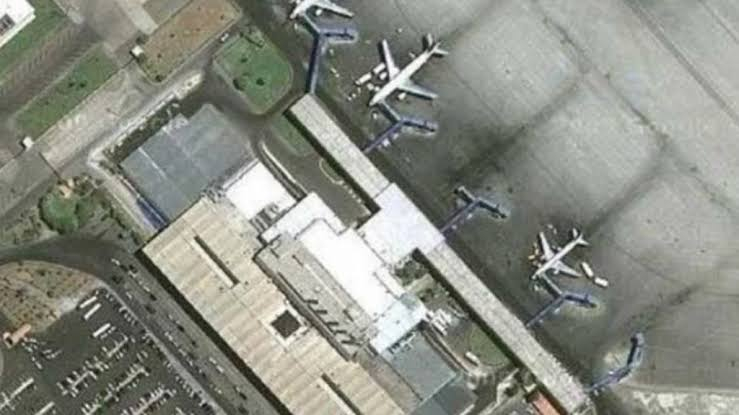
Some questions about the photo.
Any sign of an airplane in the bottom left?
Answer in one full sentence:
No, no airplane can be made out in the bottom left.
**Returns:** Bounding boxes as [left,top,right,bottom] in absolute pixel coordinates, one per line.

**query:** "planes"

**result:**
[533,227,588,278]
[289,0,356,18]
[370,34,448,104]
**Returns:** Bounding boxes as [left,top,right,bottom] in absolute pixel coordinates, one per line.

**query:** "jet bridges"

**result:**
[590,332,644,389]
[441,185,510,233]
[364,99,438,153]
[526,275,598,326]
[304,12,358,95]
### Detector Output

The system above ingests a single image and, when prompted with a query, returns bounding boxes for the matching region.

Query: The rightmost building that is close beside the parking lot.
[121,105,477,415]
